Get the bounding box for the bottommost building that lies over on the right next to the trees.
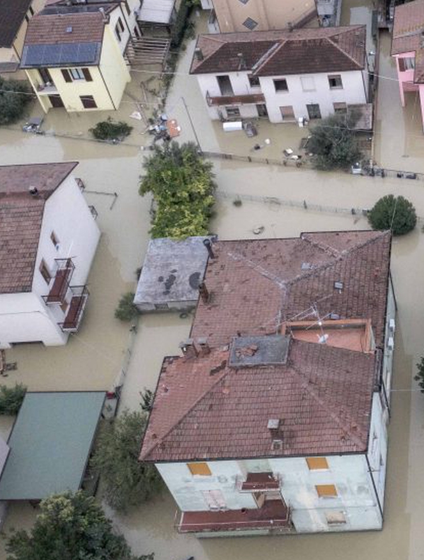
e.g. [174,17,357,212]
[137,229,400,536]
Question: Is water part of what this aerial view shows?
Yes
